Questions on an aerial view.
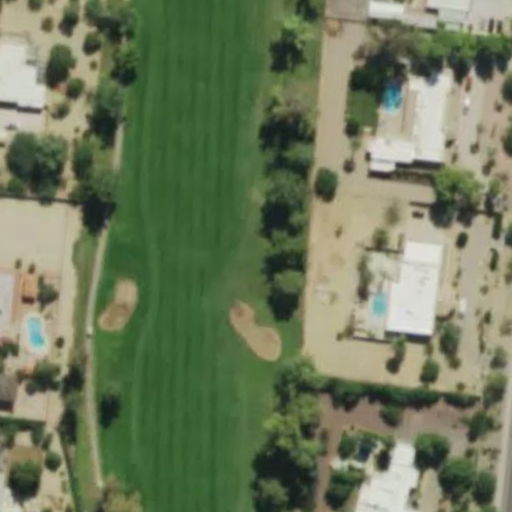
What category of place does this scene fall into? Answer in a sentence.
This looks like a golf course.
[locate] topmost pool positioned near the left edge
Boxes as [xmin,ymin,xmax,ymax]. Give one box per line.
[25,314,48,350]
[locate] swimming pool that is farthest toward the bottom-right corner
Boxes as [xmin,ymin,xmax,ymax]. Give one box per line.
[356,437,377,463]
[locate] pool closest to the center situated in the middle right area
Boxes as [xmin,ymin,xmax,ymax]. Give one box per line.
[372,291,388,317]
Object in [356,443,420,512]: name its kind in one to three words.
house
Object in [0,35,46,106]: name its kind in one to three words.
house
